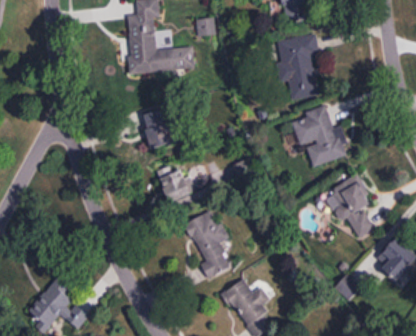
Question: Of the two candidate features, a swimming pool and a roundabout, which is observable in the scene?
swimming pool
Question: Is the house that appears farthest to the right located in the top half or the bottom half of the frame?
bottom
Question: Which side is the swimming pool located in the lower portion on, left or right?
right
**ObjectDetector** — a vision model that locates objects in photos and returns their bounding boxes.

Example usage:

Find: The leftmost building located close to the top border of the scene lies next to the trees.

[126,0,194,73]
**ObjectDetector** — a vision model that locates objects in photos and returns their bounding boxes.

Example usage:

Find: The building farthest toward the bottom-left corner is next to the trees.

[28,282,88,330]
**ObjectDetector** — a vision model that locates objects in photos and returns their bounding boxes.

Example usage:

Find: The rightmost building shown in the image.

[377,238,416,283]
